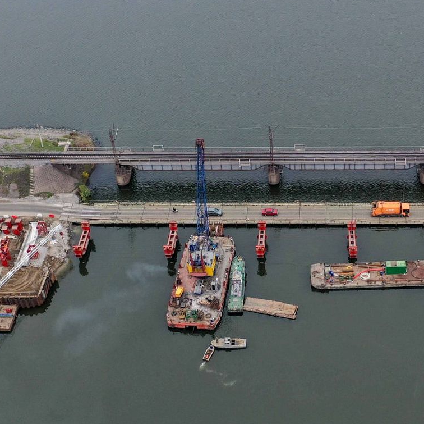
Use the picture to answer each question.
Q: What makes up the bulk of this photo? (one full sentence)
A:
The largest share of the image is taken up by water.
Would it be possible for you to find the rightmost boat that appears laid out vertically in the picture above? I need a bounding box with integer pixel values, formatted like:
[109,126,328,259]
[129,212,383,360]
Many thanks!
[225,255,245,314]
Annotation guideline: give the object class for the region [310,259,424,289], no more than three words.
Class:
ship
